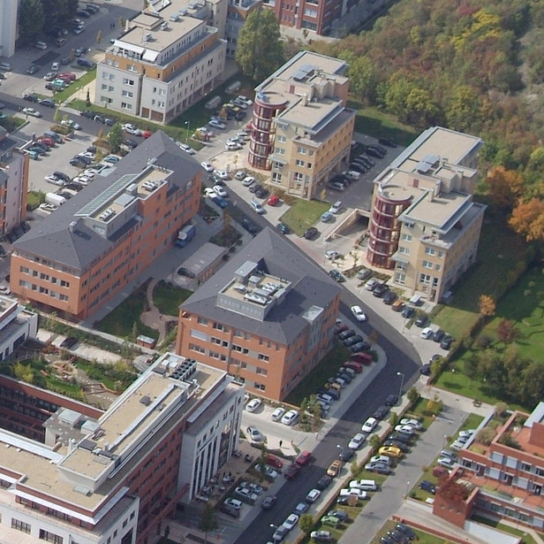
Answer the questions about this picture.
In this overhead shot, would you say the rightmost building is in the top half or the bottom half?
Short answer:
bottom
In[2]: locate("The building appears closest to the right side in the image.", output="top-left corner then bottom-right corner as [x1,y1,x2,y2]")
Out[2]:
[430,399,544,532]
